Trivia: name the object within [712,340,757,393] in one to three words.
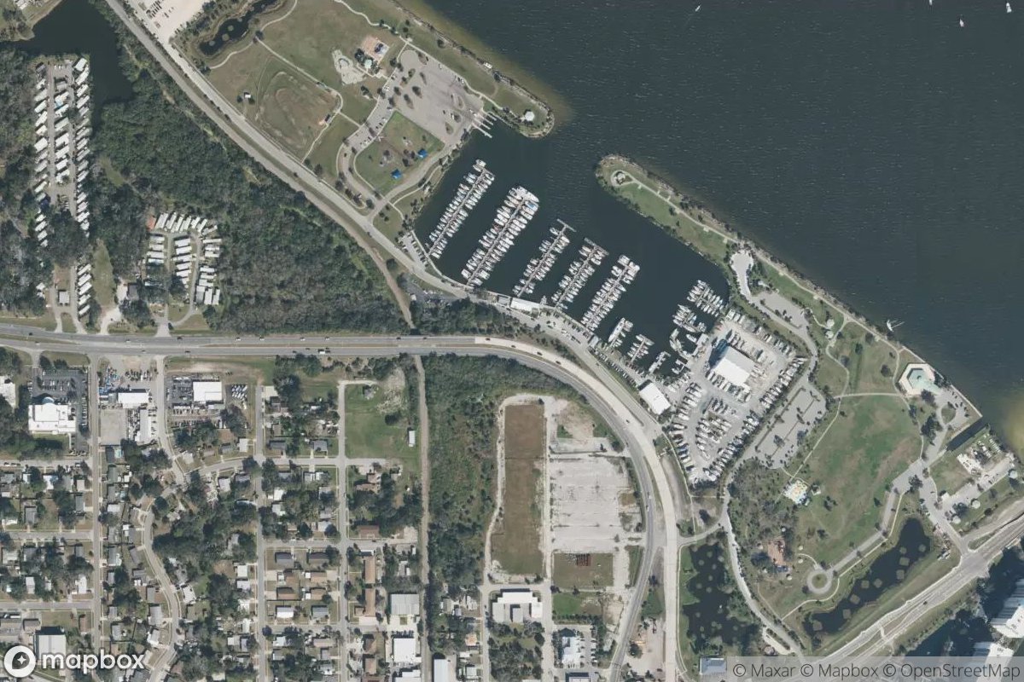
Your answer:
shed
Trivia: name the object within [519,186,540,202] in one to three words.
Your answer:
boat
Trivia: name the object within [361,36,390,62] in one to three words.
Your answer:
playground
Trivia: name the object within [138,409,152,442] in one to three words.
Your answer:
building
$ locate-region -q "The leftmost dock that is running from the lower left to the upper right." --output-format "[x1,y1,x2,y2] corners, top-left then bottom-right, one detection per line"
[424,166,495,255]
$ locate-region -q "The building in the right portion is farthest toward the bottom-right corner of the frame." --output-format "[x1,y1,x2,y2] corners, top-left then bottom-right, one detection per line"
[965,640,1013,682]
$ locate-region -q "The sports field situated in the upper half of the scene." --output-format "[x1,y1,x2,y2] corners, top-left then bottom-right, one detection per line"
[259,71,338,152]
